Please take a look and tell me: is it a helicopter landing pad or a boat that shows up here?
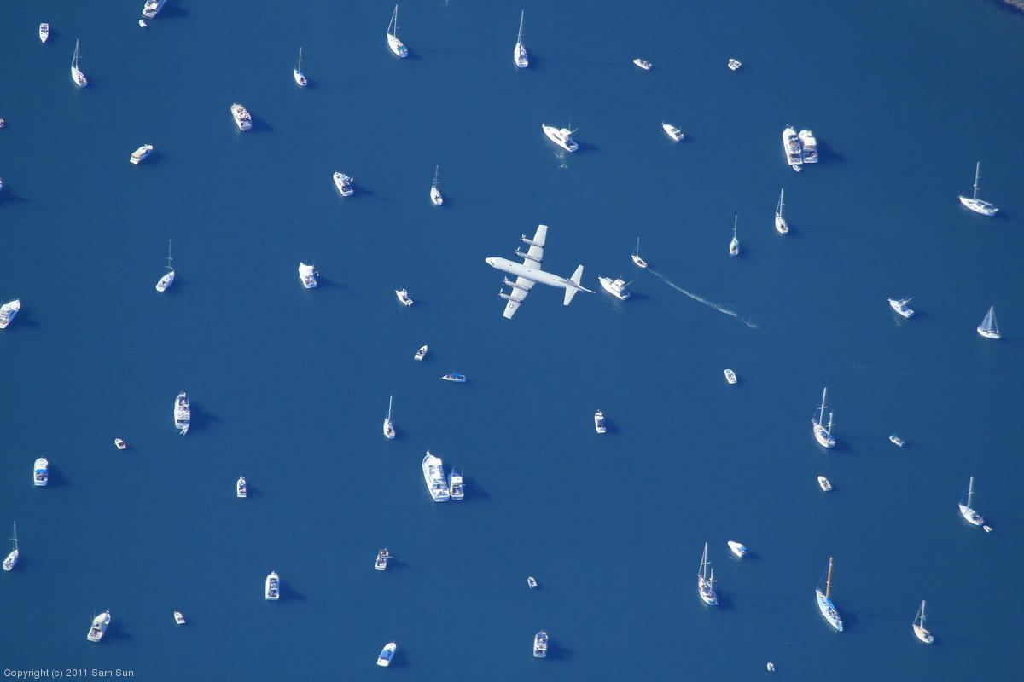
boat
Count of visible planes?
one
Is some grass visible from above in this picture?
No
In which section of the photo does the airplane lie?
center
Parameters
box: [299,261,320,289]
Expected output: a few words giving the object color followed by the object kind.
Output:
white boat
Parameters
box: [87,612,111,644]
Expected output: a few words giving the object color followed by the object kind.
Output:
white boat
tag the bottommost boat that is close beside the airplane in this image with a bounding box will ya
[598,275,631,301]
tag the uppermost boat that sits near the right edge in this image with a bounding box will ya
[960,162,997,214]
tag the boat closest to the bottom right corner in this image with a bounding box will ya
[913,600,934,642]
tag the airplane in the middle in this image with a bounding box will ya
[486,224,596,318]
